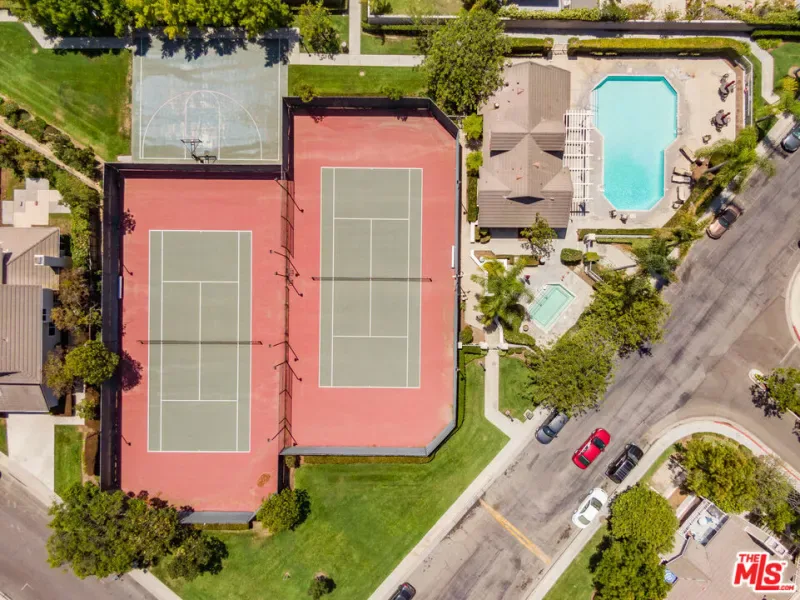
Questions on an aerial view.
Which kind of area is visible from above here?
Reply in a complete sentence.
This image shows a sports ground.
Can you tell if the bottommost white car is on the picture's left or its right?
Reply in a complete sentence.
It is on the right.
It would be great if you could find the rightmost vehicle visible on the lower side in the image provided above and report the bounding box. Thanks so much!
[605,442,645,485]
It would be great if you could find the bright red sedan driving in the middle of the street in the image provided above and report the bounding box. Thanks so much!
[572,427,610,470]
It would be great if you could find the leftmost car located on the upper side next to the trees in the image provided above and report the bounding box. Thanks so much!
[705,200,744,240]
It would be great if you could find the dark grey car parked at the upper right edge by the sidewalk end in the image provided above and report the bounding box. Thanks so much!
[778,115,800,152]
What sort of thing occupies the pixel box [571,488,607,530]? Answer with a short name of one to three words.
car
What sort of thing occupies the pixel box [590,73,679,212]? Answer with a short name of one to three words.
swimming pool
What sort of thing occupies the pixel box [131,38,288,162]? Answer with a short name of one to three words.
basketball court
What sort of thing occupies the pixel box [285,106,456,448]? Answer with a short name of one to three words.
tennis court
